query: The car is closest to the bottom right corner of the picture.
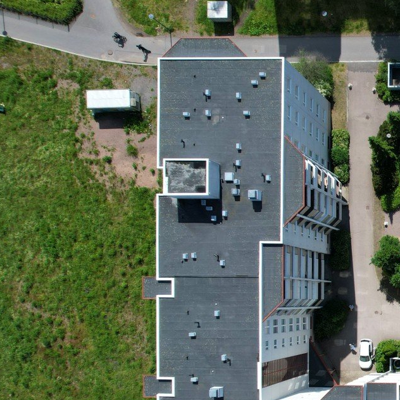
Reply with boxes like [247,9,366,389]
[357,338,376,369]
